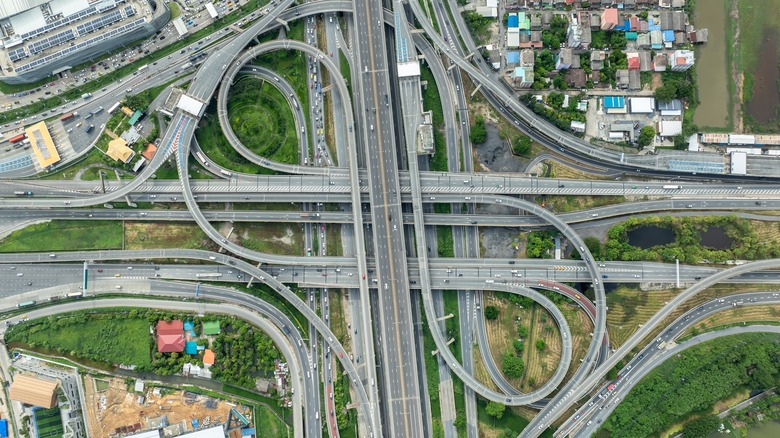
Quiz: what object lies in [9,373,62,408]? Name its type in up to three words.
building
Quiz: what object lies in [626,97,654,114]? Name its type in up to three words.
building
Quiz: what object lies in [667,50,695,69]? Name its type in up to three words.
house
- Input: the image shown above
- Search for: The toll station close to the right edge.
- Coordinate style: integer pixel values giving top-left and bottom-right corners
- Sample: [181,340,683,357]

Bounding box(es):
[722,152,746,174]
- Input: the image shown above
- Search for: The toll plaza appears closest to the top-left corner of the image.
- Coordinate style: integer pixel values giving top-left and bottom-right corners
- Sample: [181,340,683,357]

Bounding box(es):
[25,121,69,170]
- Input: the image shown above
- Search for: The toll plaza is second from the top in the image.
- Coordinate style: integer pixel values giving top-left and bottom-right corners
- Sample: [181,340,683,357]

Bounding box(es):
[176,94,209,120]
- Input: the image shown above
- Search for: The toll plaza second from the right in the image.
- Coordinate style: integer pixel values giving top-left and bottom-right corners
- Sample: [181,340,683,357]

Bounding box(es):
[397,61,420,83]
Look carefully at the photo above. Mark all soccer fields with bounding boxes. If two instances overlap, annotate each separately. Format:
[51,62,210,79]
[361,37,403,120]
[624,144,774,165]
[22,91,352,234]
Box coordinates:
[32,398,63,438]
